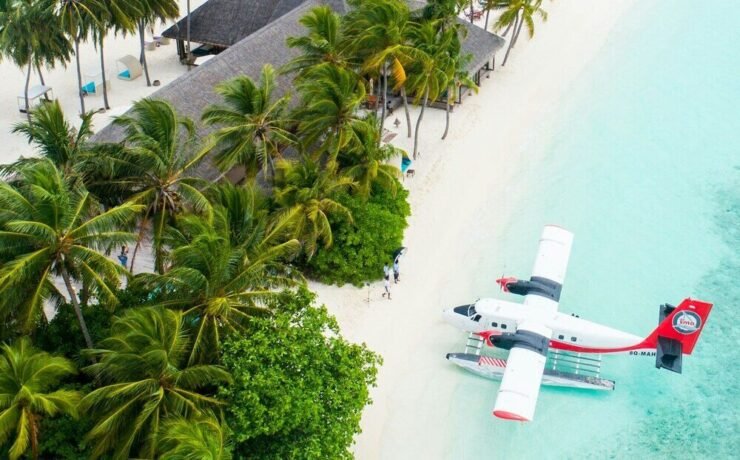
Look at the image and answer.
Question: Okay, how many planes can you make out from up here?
1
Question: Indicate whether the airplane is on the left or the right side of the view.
right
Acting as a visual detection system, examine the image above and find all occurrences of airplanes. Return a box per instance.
[442,227,712,420]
